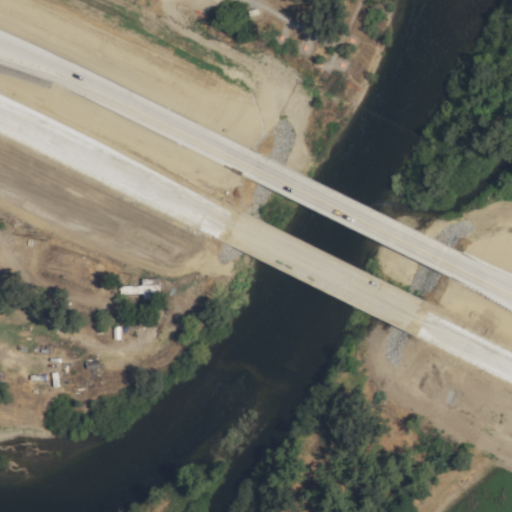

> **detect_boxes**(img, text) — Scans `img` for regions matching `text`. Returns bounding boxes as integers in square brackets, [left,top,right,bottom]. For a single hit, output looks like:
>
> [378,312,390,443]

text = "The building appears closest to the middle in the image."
[120,278,161,296]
